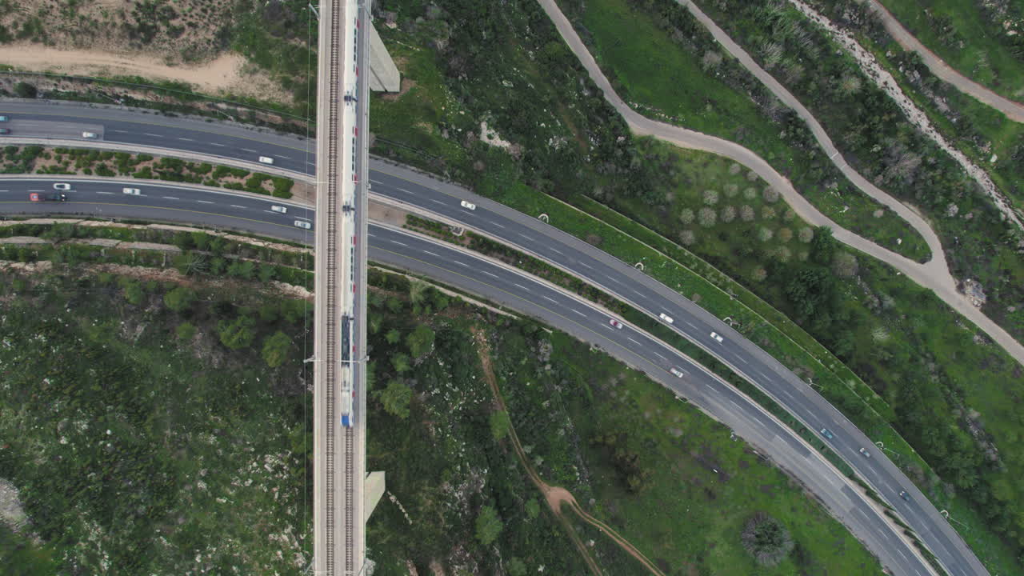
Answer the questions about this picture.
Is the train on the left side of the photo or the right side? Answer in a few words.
left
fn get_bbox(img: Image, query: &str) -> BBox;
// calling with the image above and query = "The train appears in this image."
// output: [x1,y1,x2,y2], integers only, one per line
[340,0,362,425]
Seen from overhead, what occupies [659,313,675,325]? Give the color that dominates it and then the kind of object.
white vehicle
